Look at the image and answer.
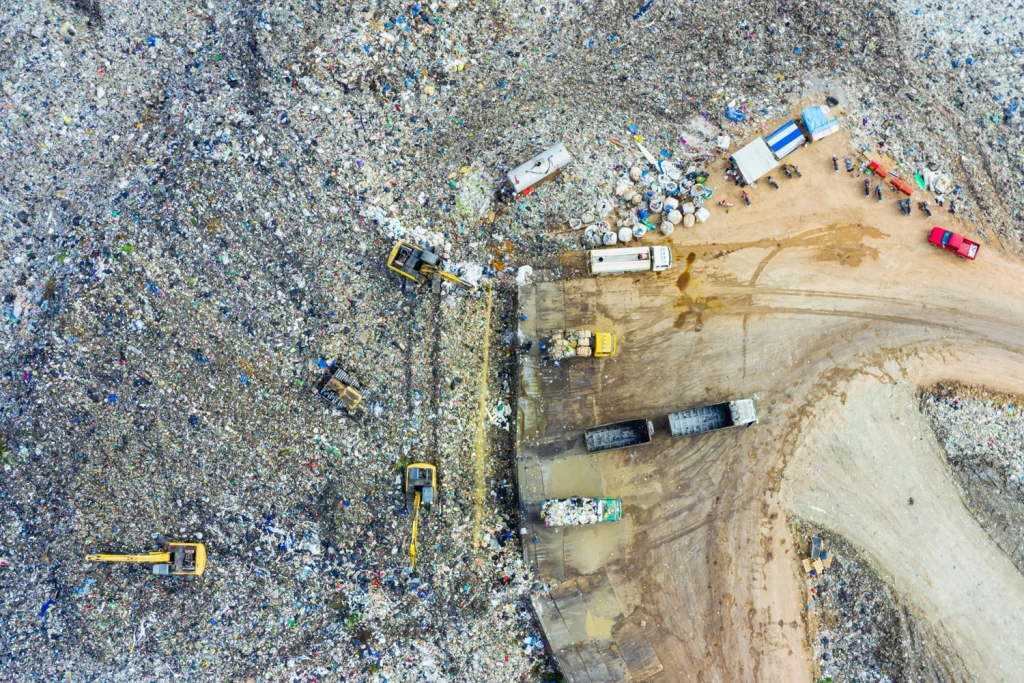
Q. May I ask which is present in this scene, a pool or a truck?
truck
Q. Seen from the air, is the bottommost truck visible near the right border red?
Yes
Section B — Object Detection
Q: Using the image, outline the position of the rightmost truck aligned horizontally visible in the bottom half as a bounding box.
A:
[665,396,757,437]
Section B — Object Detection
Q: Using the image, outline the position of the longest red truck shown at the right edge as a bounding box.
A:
[923,226,981,260]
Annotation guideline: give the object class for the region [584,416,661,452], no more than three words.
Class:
trailer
